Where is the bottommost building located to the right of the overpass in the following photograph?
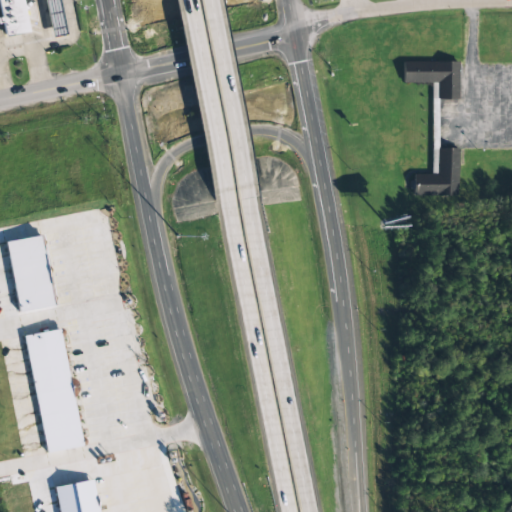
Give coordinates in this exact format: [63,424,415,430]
[414,148,461,196]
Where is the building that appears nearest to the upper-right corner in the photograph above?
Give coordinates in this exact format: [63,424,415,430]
[404,60,461,99]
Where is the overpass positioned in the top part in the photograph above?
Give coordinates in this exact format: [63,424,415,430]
[180,0,261,202]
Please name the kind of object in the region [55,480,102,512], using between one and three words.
building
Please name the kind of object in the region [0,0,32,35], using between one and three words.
building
